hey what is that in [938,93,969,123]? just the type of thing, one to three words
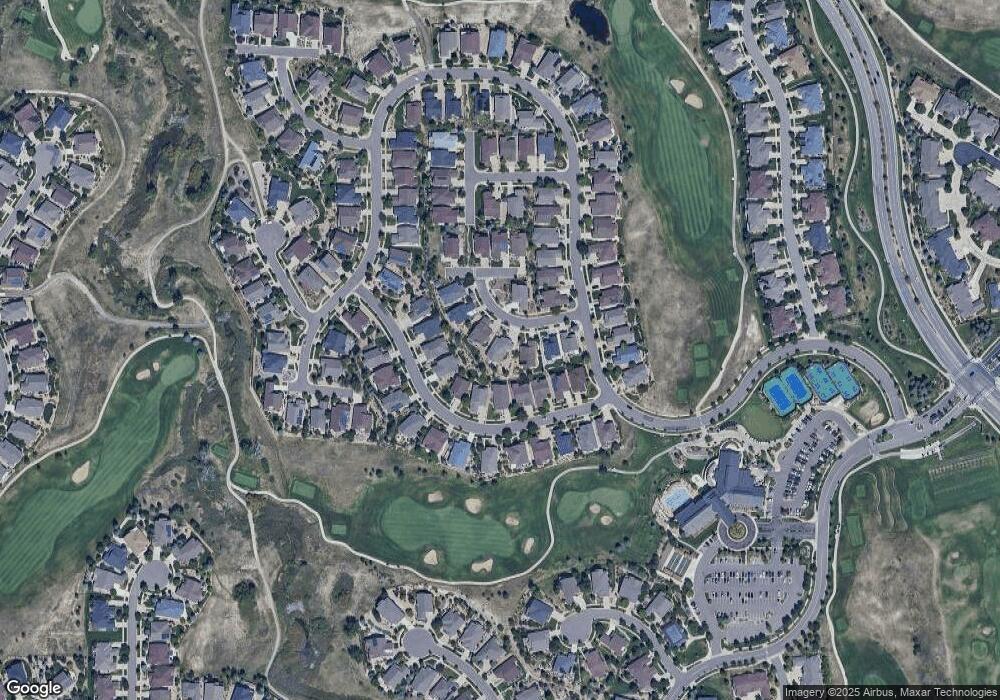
house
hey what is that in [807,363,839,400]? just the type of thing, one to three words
sports court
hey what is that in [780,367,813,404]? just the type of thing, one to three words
tennis court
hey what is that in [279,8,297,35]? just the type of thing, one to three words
house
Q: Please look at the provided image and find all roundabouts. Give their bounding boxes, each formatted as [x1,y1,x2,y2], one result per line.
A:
[718,511,759,552]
